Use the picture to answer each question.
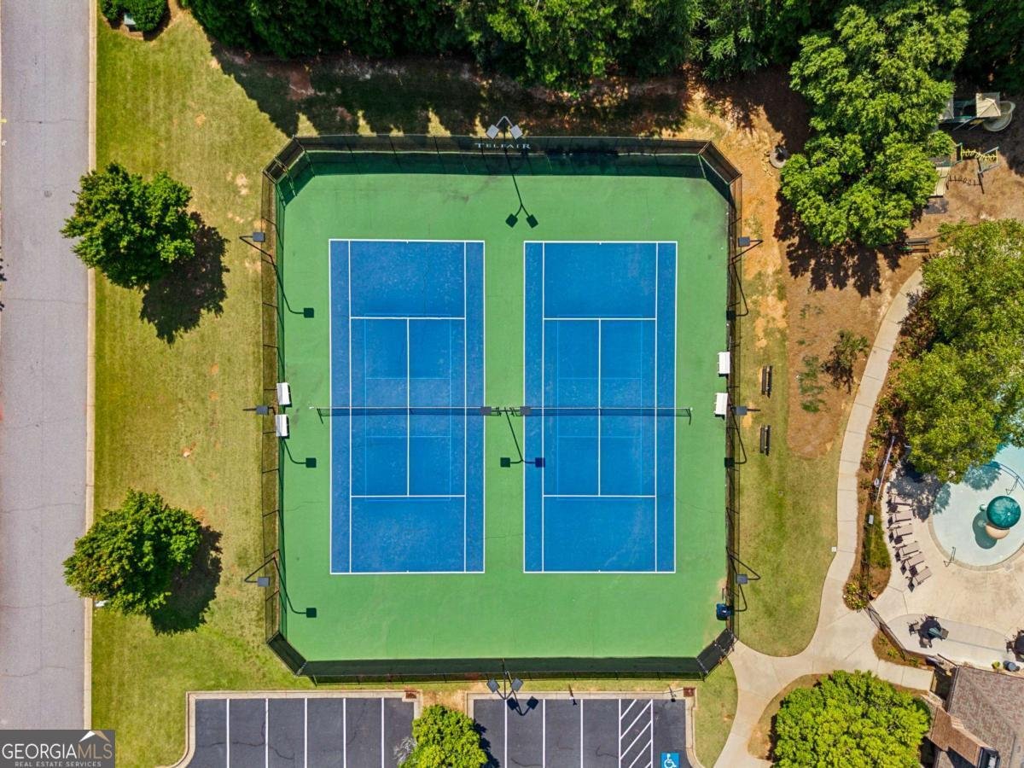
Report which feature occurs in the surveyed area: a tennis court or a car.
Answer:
tennis court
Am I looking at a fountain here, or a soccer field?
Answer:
fountain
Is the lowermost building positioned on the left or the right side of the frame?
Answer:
right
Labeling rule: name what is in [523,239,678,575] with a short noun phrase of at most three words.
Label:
tennis court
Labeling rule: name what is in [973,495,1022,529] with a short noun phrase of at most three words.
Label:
fountain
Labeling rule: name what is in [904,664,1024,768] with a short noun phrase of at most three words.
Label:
building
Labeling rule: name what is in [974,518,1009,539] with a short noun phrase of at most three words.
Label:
fountain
